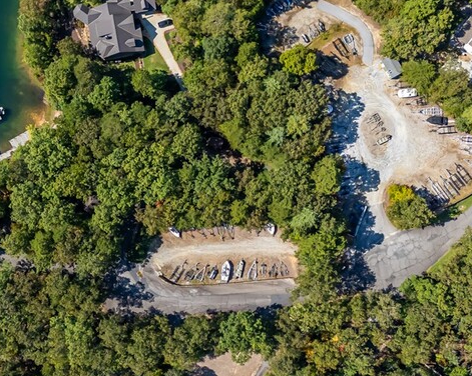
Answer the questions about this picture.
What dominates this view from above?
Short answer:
trees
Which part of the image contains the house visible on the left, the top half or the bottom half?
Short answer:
top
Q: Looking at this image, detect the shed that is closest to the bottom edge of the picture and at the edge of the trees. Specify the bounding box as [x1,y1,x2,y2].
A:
[378,56,402,81]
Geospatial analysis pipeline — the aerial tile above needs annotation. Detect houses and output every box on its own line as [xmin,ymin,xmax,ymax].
[72,0,158,66]
[451,19,472,56]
